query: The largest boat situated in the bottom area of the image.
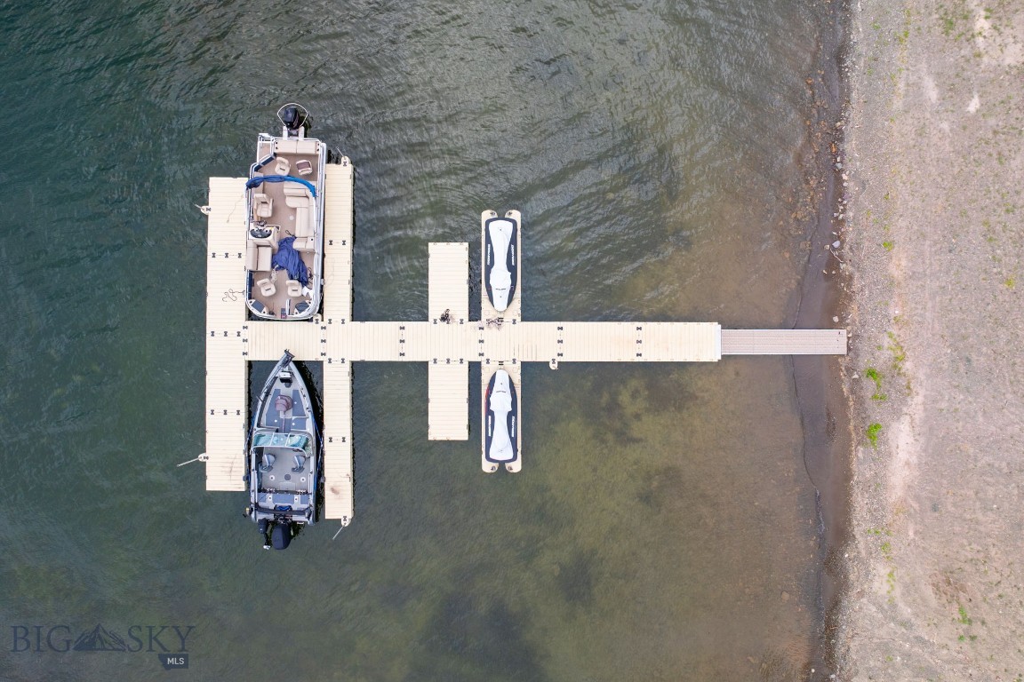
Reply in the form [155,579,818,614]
[244,349,318,550]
